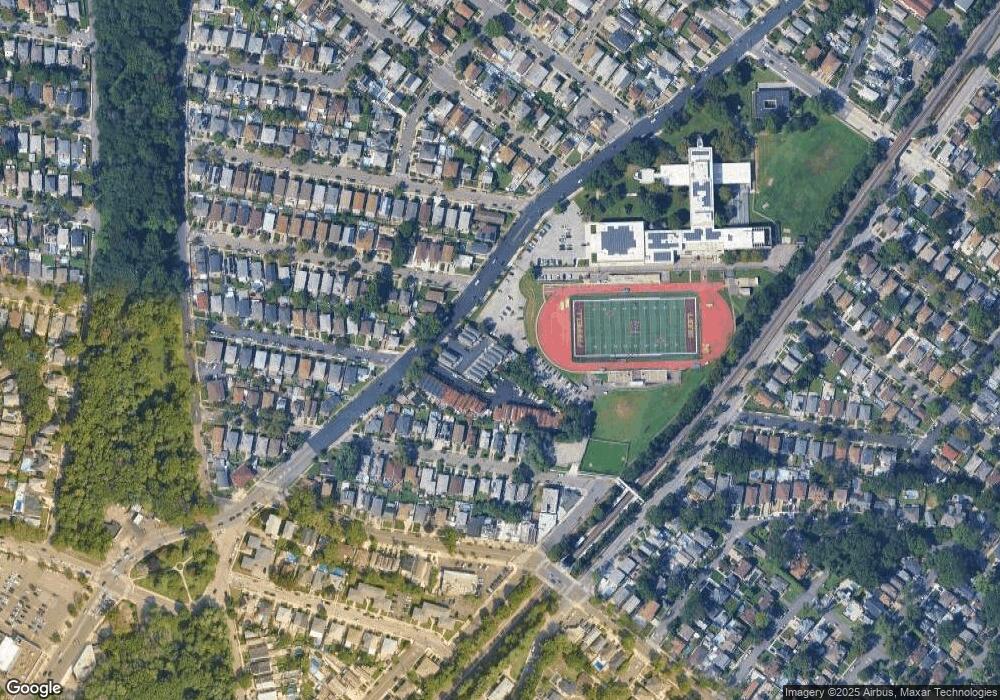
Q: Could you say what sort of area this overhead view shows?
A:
residential area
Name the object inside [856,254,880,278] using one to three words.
house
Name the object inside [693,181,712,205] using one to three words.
solar array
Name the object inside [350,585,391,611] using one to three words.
building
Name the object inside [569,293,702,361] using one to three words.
sports field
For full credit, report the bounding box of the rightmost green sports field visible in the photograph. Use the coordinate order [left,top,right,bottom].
[757,113,876,240]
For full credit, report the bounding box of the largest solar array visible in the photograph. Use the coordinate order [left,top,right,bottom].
[602,226,637,254]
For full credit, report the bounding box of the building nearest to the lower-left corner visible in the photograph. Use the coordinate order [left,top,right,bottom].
[0,629,42,682]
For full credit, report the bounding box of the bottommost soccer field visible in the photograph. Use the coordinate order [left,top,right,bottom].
[581,441,630,474]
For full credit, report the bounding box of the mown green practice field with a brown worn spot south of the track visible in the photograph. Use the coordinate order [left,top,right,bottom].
[590,380,698,448]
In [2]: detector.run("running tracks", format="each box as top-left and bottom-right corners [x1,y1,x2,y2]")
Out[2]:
[536,280,734,374]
